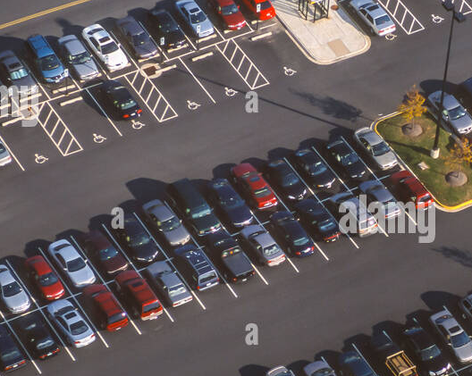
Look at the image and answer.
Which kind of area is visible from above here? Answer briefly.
parking lot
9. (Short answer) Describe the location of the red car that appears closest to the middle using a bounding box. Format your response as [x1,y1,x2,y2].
[234,166,276,210]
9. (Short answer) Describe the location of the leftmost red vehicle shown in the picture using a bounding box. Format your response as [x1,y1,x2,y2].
[20,252,65,302]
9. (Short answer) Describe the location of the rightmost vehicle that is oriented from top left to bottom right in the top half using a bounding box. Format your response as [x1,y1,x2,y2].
[429,90,472,135]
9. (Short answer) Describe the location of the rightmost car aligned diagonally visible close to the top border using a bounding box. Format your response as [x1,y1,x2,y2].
[352,0,394,37]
